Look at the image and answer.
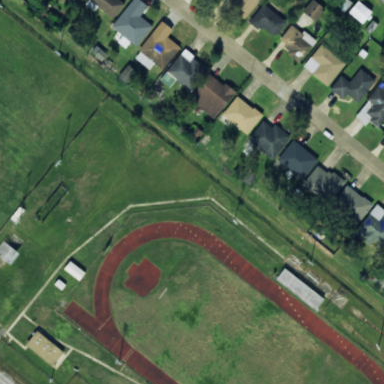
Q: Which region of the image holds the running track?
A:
bottom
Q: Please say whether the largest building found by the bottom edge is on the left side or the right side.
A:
left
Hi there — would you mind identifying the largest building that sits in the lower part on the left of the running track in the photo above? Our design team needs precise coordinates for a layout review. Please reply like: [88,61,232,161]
[28,332,64,367]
